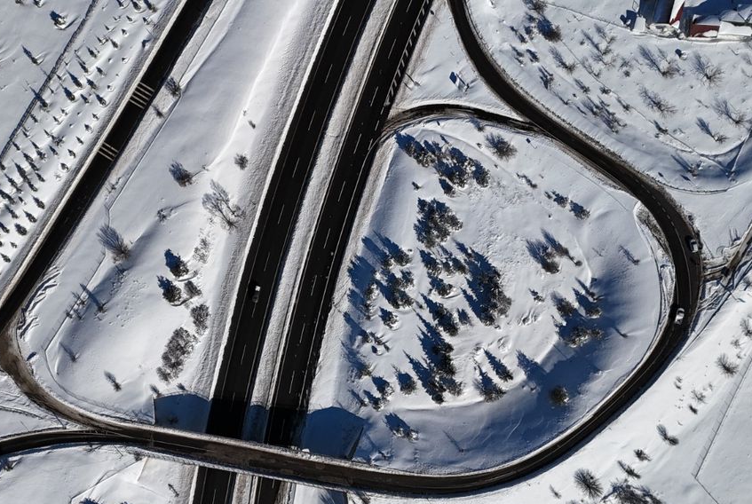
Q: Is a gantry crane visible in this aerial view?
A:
No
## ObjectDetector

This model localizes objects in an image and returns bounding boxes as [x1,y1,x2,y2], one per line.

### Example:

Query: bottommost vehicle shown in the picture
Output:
[674,306,686,323]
